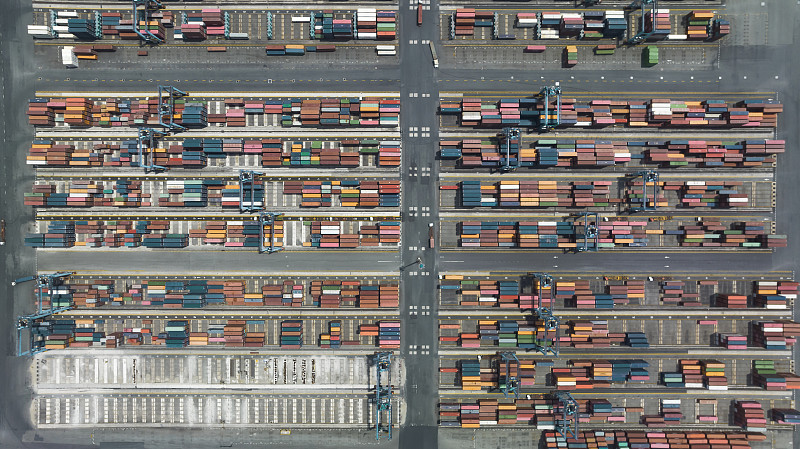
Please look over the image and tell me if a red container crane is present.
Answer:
No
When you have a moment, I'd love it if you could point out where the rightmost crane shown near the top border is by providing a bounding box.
[623,0,658,46]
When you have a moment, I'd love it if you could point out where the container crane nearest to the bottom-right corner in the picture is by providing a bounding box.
[550,390,580,440]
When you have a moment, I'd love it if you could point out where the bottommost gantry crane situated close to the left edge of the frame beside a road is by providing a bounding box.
[18,311,58,357]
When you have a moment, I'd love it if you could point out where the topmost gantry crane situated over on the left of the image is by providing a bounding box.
[133,0,166,45]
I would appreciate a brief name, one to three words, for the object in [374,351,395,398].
container crane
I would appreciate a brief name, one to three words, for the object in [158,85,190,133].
container crane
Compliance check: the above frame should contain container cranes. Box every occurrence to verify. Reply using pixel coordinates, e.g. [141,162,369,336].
[532,312,560,357]
[496,127,523,173]
[570,212,600,253]
[374,351,395,398]
[18,311,58,357]
[623,0,658,46]
[138,126,172,173]
[495,351,521,399]
[259,212,284,252]
[550,390,580,440]
[239,169,266,212]
[527,272,555,315]
[374,390,394,440]
[133,0,166,45]
[533,80,561,133]
[158,85,190,133]
[624,169,659,213]
[38,271,77,315]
